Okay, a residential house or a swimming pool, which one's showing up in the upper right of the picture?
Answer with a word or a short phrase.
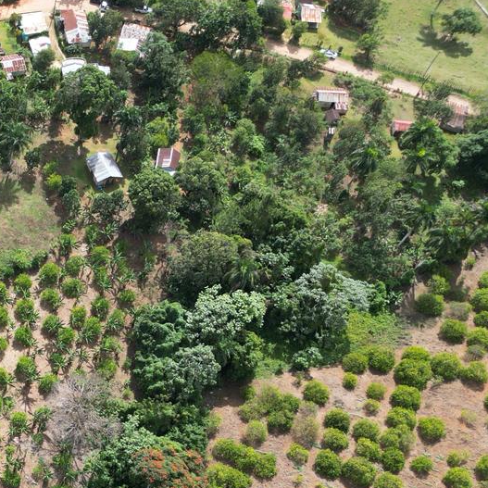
residential house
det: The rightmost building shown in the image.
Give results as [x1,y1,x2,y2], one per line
[443,102,468,136]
